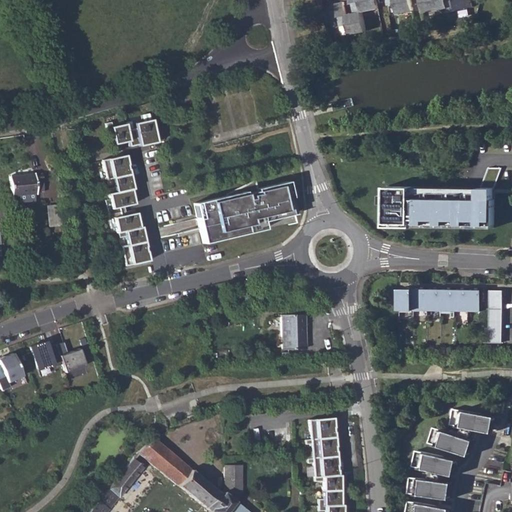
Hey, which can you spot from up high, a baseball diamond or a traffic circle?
traffic circle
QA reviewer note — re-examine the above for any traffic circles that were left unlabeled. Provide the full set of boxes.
[294,213,368,288]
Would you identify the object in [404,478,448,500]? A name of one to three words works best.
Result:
house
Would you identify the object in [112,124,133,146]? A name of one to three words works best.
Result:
building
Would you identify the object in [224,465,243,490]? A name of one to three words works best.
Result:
shed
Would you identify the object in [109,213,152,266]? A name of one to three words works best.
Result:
building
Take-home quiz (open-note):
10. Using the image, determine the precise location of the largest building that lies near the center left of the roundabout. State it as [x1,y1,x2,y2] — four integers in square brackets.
[193,182,300,244]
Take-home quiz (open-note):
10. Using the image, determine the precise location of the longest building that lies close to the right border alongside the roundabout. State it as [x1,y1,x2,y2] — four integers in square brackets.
[373,188,494,230]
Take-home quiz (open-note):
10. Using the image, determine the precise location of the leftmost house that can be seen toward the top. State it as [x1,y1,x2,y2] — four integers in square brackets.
[12,168,40,203]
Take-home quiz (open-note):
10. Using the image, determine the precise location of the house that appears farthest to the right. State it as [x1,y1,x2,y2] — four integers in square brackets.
[486,290,502,343]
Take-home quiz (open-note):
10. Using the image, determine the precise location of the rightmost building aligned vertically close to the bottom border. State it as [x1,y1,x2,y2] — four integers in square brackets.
[304,418,346,512]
